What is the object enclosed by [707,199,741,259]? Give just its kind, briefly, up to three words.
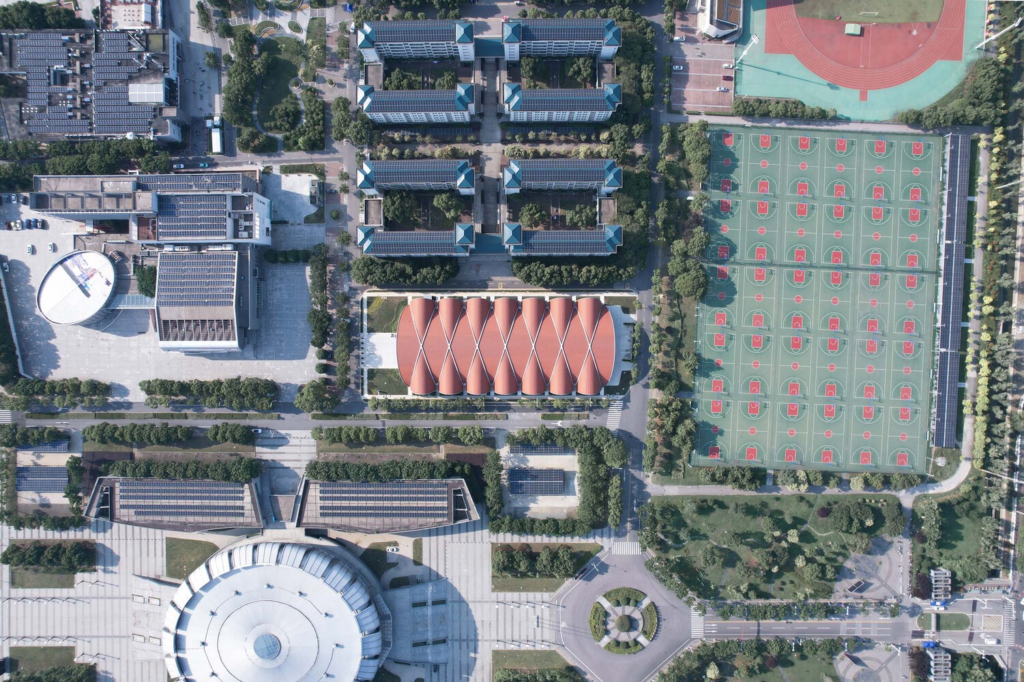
basketball court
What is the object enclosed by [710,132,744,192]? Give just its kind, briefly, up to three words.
basketball court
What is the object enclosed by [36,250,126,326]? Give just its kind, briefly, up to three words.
building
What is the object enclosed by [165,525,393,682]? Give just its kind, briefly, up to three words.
stadium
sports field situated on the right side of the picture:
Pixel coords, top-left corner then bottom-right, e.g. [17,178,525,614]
[794,0,943,22]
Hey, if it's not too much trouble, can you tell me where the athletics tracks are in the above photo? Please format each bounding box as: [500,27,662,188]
[765,0,966,101]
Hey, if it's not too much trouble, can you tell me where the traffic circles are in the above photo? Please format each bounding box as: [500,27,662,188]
[589,587,657,654]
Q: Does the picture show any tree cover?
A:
Yes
